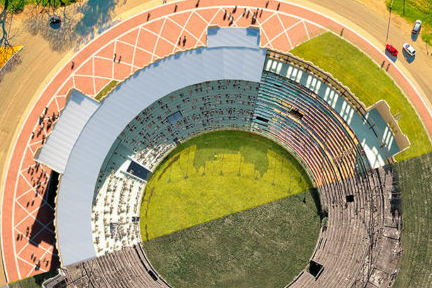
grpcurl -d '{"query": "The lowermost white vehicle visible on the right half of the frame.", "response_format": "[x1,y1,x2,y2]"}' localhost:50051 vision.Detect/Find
[401,42,415,57]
